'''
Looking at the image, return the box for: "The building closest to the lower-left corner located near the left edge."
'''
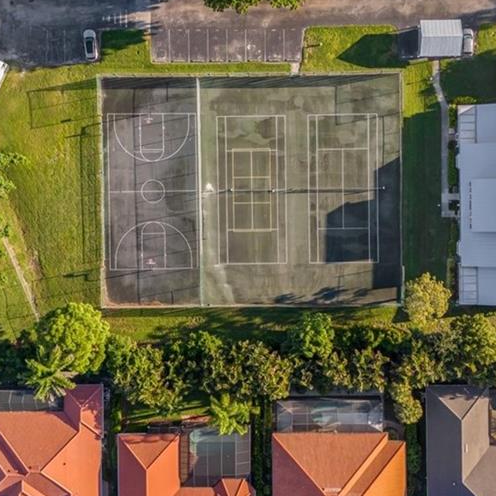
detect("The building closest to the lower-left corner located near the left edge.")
[0,385,103,496]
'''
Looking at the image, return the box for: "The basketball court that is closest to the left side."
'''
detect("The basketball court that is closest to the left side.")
[101,78,200,305]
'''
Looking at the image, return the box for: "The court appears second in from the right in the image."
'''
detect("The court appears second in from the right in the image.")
[199,77,299,305]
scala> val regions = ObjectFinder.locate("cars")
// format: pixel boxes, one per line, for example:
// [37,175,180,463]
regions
[83,29,99,62]
[462,26,476,58]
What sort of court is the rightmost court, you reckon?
tennis court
